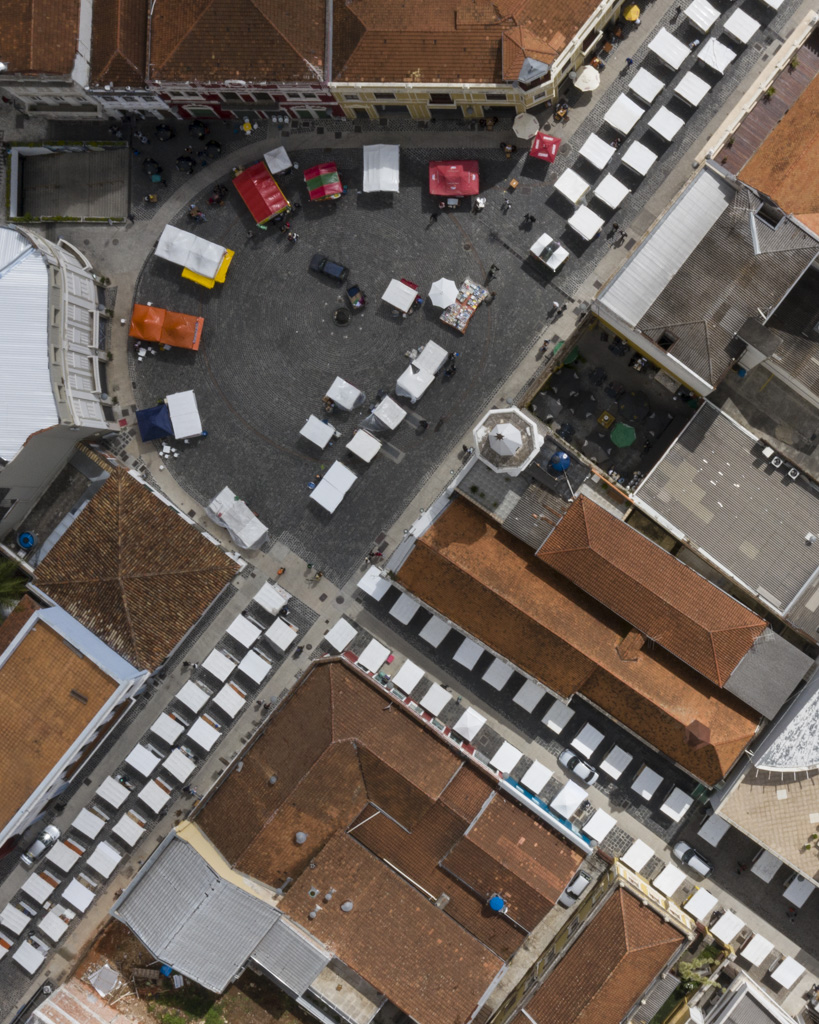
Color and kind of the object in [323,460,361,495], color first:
white tent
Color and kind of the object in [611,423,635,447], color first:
green umbrella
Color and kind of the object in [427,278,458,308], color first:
white umbrella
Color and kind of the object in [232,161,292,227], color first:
red tent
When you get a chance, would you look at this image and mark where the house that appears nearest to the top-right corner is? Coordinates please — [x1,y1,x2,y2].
[680,2,819,241]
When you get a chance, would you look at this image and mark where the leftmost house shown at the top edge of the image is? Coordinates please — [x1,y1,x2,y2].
[0,0,118,121]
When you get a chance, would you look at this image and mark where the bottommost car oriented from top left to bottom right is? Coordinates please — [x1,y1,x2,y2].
[668,837,715,877]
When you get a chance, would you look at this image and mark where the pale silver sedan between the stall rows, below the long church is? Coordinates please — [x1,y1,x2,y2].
[554,745,602,786]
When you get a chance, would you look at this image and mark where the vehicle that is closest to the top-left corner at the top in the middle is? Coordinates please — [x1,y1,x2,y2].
[308,255,349,283]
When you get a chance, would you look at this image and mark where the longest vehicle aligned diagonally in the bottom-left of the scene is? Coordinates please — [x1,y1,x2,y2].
[20,821,65,869]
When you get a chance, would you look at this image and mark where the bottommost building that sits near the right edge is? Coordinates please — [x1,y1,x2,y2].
[679,957,801,1024]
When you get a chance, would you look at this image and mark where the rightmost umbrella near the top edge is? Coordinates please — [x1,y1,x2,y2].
[624,5,641,25]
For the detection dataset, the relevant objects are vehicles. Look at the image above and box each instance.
[668,837,715,877]
[20,821,65,869]
[554,745,602,786]
[308,255,349,283]
[558,864,595,907]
